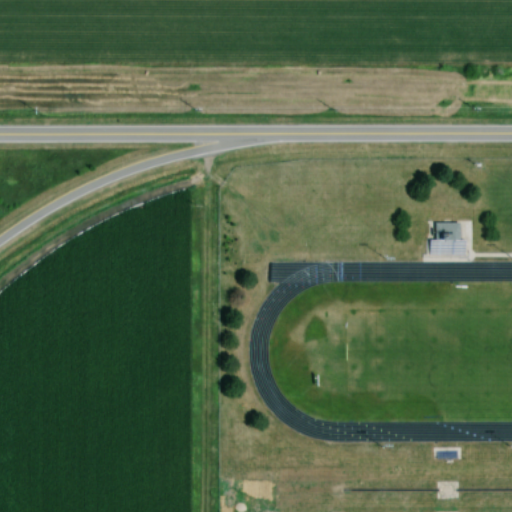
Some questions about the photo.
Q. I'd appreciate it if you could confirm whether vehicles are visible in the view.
No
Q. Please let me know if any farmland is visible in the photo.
Yes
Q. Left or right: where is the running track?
right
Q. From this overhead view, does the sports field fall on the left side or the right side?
right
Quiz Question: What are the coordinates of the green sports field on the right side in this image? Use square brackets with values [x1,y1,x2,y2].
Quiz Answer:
[270,281,512,422]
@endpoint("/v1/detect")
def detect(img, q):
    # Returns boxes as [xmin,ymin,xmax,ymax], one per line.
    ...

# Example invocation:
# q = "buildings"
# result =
[435,222,460,240]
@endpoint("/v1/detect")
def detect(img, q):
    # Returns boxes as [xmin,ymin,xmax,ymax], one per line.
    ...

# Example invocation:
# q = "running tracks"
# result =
[250,262,512,441]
